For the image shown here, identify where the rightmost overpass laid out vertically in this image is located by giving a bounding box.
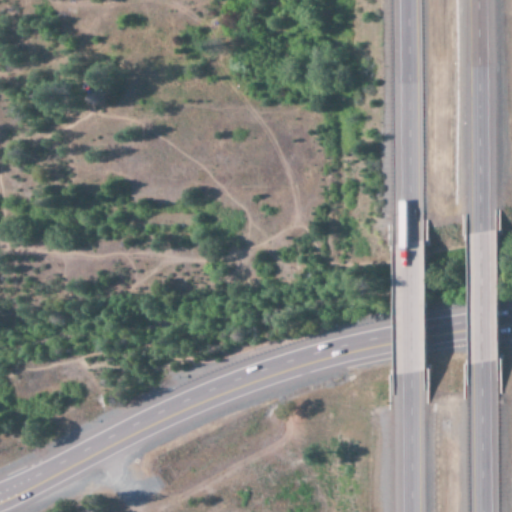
[463,208,505,400]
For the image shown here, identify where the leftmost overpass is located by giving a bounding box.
[389,219,433,410]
